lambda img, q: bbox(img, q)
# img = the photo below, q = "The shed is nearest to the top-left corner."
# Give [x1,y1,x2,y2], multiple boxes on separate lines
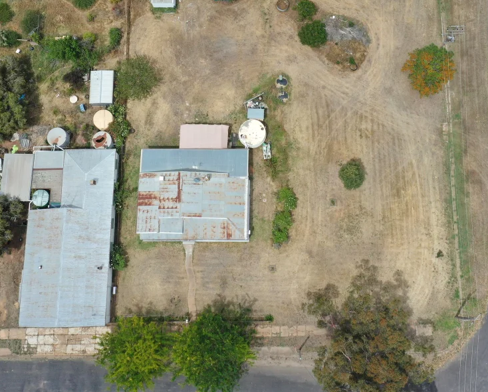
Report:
[89,69,116,107]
